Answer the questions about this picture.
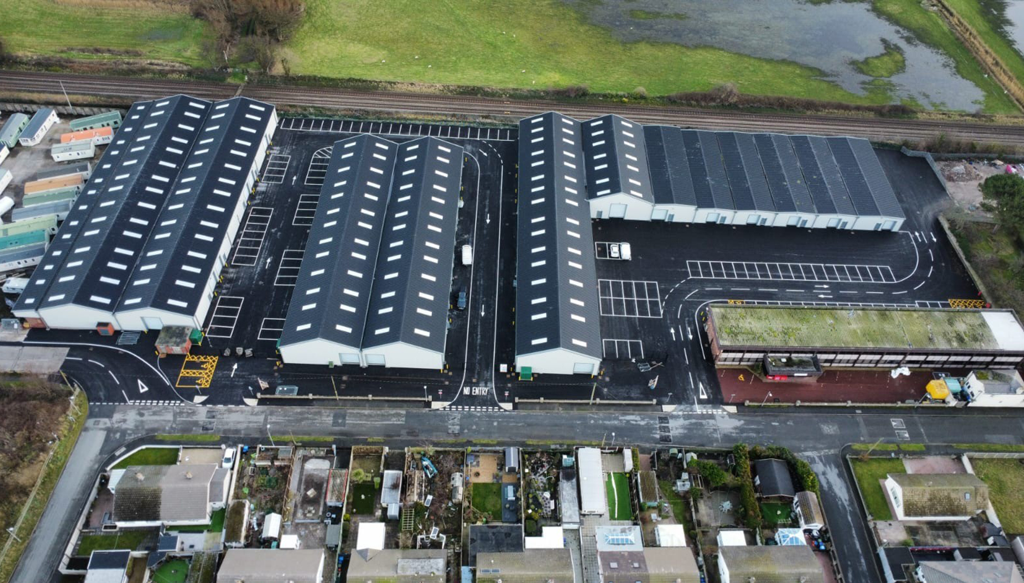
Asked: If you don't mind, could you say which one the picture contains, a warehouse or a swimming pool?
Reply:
warehouse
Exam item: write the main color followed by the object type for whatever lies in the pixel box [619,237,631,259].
white vehicle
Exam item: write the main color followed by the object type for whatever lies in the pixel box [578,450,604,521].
white camper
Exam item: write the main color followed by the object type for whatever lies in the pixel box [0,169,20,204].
white camper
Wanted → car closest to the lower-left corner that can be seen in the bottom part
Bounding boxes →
[219,446,236,469]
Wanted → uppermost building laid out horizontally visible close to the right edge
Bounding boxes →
[707,304,1024,379]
